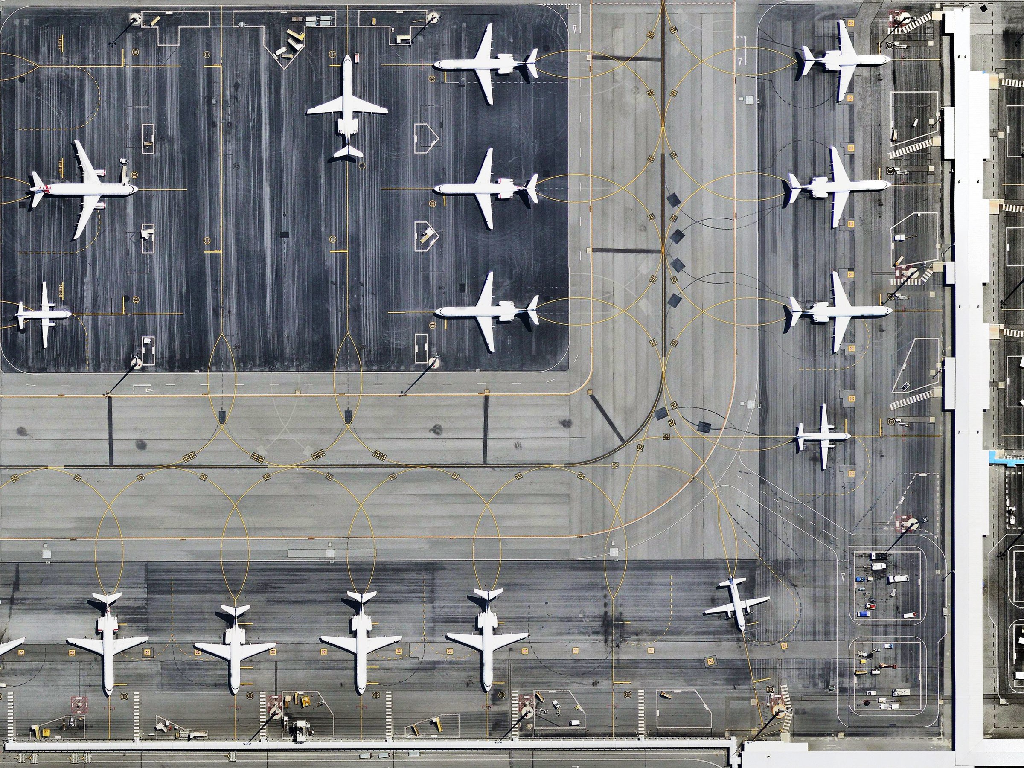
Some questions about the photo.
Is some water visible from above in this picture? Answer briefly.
No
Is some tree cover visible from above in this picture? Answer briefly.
No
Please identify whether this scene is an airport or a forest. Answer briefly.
airport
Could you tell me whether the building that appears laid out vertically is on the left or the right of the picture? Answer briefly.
right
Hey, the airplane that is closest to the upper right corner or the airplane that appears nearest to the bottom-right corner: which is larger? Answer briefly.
the airplane that is closest to the upper right corner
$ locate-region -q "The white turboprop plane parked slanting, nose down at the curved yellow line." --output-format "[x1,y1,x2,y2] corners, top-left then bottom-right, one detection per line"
[706,577,771,632]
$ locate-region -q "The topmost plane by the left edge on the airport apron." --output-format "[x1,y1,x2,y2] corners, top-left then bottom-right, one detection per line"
[29,140,138,239]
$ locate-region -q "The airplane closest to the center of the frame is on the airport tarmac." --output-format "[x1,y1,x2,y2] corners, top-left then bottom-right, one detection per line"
[435,271,540,353]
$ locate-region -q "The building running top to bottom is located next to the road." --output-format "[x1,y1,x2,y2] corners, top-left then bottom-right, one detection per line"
[741,8,1024,768]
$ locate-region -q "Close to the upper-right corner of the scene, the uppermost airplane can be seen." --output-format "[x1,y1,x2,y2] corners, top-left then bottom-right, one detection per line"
[802,19,891,101]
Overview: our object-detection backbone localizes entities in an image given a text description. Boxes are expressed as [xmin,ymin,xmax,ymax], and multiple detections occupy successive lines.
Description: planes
[435,271,540,353]
[17,281,72,347]
[802,19,891,101]
[195,604,276,694]
[447,588,529,692]
[29,140,138,239]
[67,592,149,696]
[434,23,538,105]
[788,144,891,226]
[790,270,893,352]
[706,577,771,632]
[434,148,539,230]
[796,403,851,469]
[321,590,402,694]
[307,55,388,158]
